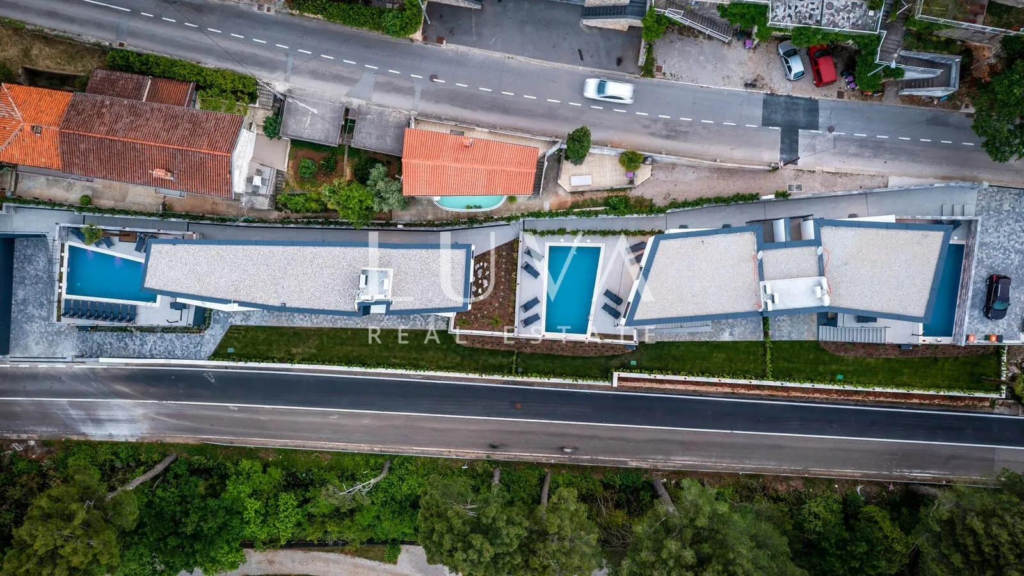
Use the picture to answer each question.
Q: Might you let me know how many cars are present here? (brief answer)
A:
four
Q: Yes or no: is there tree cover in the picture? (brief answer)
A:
Yes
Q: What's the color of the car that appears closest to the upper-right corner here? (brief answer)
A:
red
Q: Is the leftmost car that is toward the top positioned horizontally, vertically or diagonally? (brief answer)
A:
horizontally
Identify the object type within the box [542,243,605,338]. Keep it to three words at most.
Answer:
swimming pool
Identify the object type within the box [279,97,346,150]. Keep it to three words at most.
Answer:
building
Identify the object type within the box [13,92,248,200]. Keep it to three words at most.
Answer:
house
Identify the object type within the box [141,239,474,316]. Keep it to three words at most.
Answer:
house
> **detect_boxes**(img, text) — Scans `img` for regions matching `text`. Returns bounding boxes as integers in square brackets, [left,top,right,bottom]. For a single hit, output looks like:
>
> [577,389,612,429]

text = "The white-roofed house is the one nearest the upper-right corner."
[621,214,953,326]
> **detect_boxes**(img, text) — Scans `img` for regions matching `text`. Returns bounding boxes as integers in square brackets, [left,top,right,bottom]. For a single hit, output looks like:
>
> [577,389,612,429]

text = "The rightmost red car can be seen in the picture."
[809,42,841,88]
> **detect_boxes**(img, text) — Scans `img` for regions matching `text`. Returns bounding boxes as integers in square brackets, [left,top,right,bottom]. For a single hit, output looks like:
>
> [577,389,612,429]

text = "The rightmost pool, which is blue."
[918,240,963,343]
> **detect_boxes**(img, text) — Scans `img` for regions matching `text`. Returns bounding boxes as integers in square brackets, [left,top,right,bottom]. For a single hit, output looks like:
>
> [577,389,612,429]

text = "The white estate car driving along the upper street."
[584,75,636,103]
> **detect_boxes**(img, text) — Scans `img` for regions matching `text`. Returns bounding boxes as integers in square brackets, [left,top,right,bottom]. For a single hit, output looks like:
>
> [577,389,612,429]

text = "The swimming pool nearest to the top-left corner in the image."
[64,241,165,307]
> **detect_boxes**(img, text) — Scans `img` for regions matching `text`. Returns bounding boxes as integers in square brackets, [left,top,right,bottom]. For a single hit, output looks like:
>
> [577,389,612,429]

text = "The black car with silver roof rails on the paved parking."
[985,275,1018,322]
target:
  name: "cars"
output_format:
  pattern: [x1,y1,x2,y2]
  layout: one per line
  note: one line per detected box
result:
[809,42,841,88]
[584,75,636,103]
[985,275,1018,322]
[778,40,811,83]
